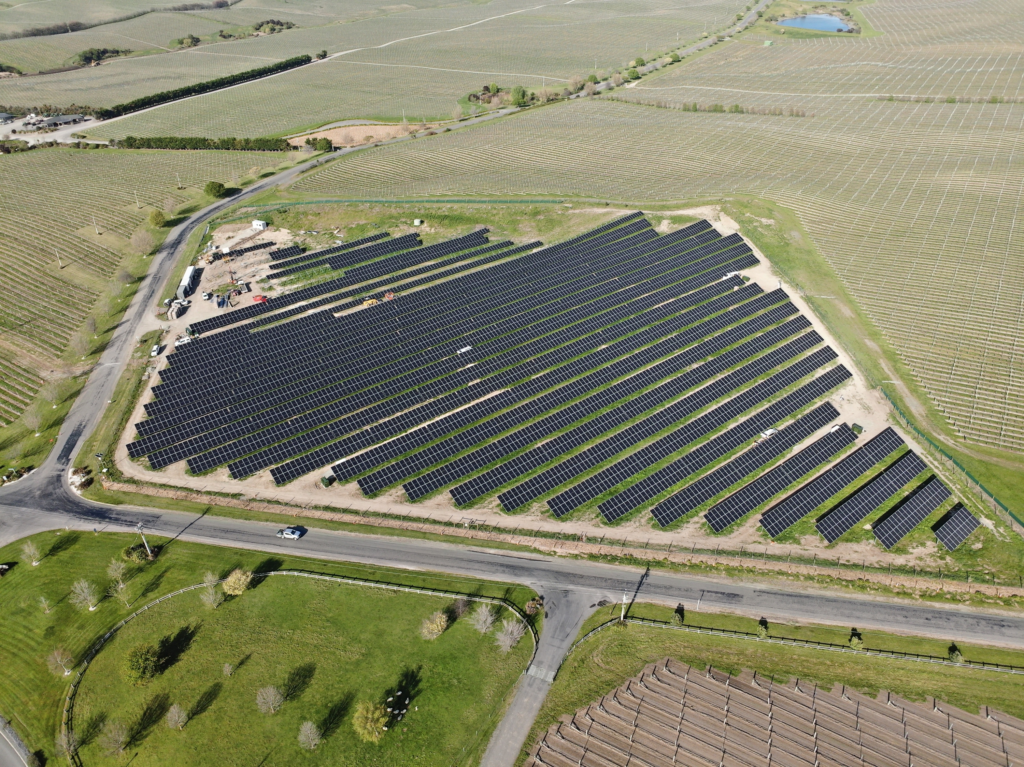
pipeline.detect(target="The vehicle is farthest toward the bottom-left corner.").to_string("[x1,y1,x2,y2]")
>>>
[276,529,302,541]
